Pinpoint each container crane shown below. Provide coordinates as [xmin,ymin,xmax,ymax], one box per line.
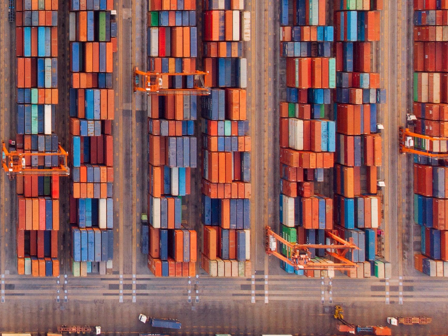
[1,141,71,174]
[133,66,211,95]
[399,126,448,160]
[264,226,353,270]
